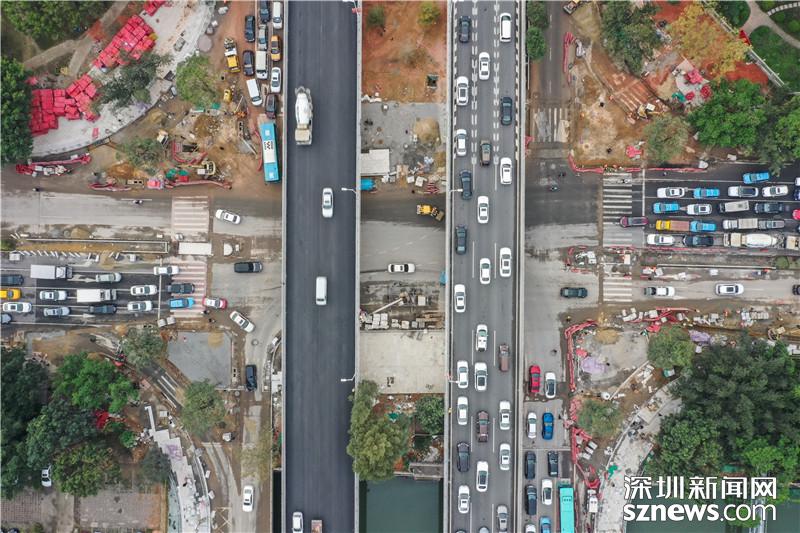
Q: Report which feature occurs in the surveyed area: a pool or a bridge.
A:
bridge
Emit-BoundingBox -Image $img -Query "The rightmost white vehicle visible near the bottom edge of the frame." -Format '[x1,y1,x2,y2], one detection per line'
[587,489,601,513]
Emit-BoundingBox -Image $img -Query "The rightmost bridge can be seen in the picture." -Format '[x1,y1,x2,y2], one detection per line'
[444,0,526,533]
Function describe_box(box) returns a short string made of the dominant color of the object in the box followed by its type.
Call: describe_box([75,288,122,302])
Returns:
white vehicle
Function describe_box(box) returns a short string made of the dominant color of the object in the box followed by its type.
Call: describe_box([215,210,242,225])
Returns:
white car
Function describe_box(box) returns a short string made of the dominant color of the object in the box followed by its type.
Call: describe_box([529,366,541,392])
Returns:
red vehicle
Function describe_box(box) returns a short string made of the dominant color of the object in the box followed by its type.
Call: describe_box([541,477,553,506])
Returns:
white vehicle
